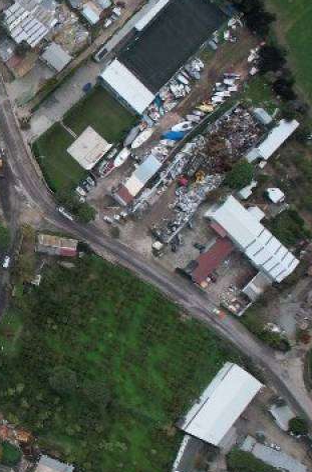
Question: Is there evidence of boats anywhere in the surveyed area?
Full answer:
Yes, the frame does contain a boat.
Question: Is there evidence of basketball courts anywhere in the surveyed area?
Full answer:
No, I find no basketball court anywhere in the image.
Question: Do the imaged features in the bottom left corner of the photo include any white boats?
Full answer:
No, no white boat can be made out in the bottom left corner of the photo.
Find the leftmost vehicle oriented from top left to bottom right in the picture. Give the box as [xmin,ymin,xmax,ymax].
[55,204,76,223]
